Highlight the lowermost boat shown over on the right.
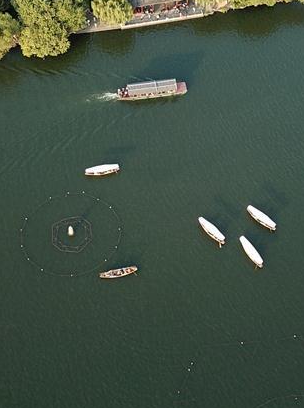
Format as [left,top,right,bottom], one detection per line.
[239,237,264,273]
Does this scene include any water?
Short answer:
Yes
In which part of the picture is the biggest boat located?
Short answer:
top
